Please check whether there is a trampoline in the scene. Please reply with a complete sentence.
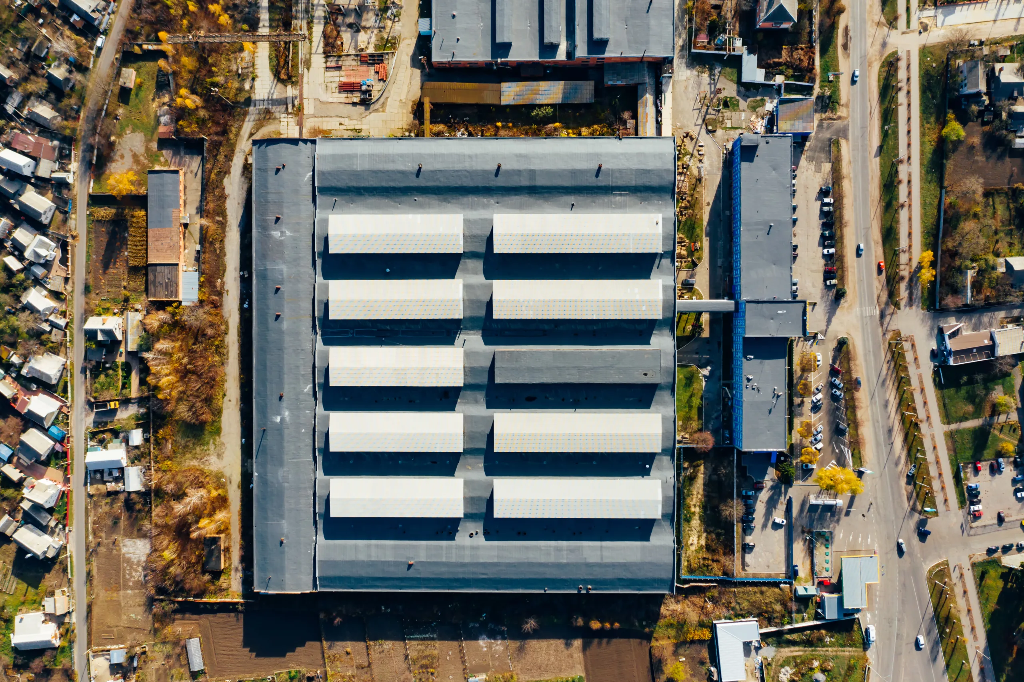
No, there's no trampoline here.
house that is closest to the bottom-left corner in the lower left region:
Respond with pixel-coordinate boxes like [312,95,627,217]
[11,610,65,652]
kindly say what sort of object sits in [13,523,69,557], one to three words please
house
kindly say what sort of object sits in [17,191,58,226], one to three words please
house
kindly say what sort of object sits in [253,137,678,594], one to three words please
building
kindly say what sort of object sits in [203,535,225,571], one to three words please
shed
